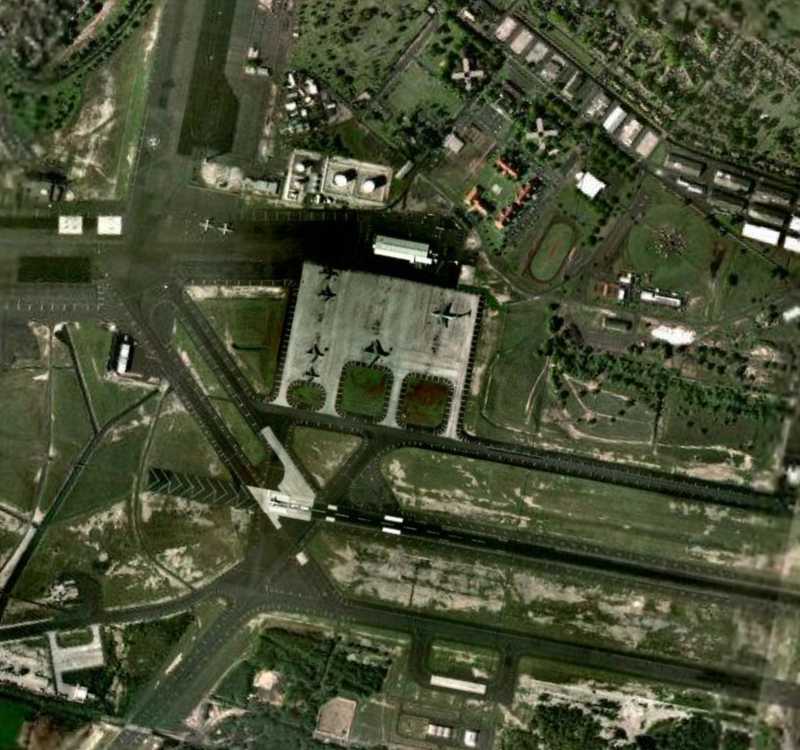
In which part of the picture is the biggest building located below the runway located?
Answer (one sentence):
The biggest building located below the runway sits in the bottom section of the image.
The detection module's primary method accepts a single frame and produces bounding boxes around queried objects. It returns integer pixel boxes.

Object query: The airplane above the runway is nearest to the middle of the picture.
[363,339,390,365]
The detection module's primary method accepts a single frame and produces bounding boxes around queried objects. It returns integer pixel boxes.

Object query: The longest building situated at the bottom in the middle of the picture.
[430,675,487,695]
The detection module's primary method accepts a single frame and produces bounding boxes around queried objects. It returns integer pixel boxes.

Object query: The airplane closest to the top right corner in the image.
[434,303,466,327]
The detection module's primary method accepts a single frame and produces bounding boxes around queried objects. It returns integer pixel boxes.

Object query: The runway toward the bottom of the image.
[243,426,800,609]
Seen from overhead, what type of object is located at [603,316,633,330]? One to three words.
hangar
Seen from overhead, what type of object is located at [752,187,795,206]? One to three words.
shed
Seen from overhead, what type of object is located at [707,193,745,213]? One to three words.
shed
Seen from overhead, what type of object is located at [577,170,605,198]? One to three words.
building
